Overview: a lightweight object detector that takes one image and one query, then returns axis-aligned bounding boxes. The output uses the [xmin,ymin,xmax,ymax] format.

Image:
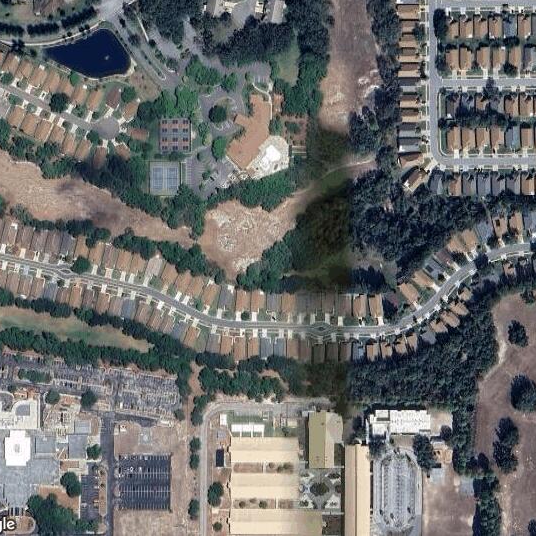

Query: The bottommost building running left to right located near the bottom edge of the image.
[229,510,323,534]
